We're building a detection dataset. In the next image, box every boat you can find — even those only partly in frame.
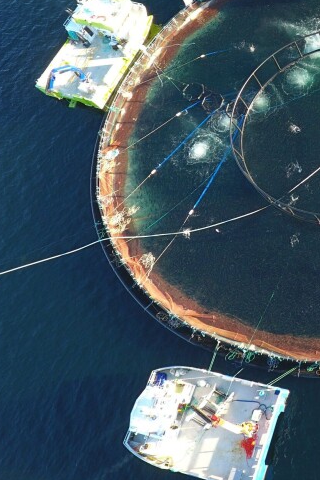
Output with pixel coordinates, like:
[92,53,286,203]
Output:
[31,0,162,111]
[119,367,298,480]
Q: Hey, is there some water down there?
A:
Yes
